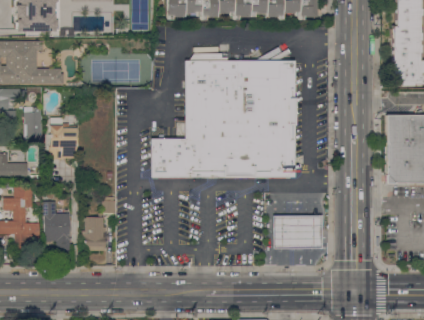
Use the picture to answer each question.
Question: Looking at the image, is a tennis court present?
Yes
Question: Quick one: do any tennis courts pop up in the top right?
No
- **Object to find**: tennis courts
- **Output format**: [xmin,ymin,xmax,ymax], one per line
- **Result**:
[130,0,150,32]
[82,55,153,86]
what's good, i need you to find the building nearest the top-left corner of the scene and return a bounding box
[17,0,60,32]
